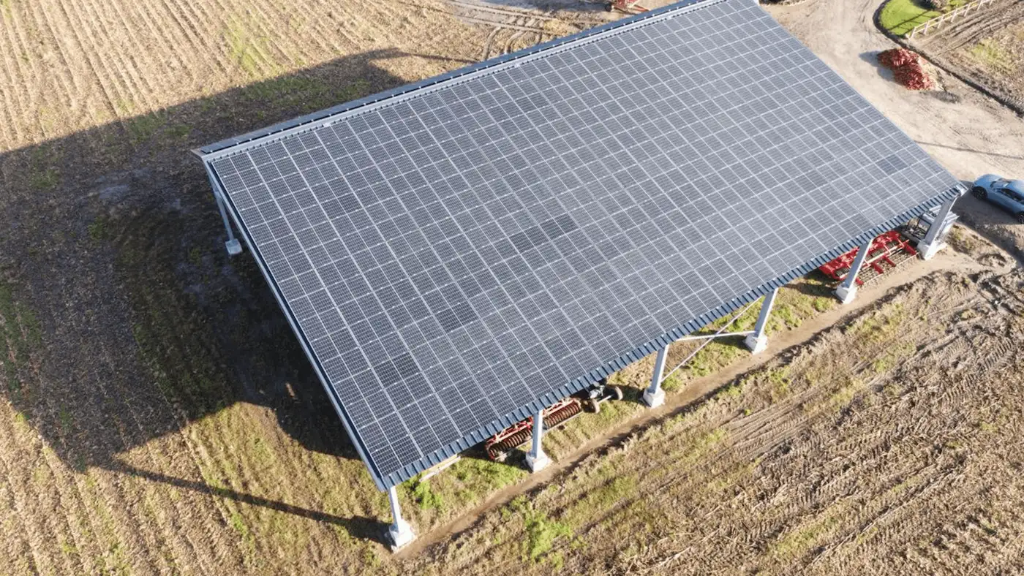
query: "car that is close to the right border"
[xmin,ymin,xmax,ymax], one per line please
[973,173,1024,223]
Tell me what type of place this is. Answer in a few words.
solar farm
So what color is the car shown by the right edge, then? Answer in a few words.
blue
